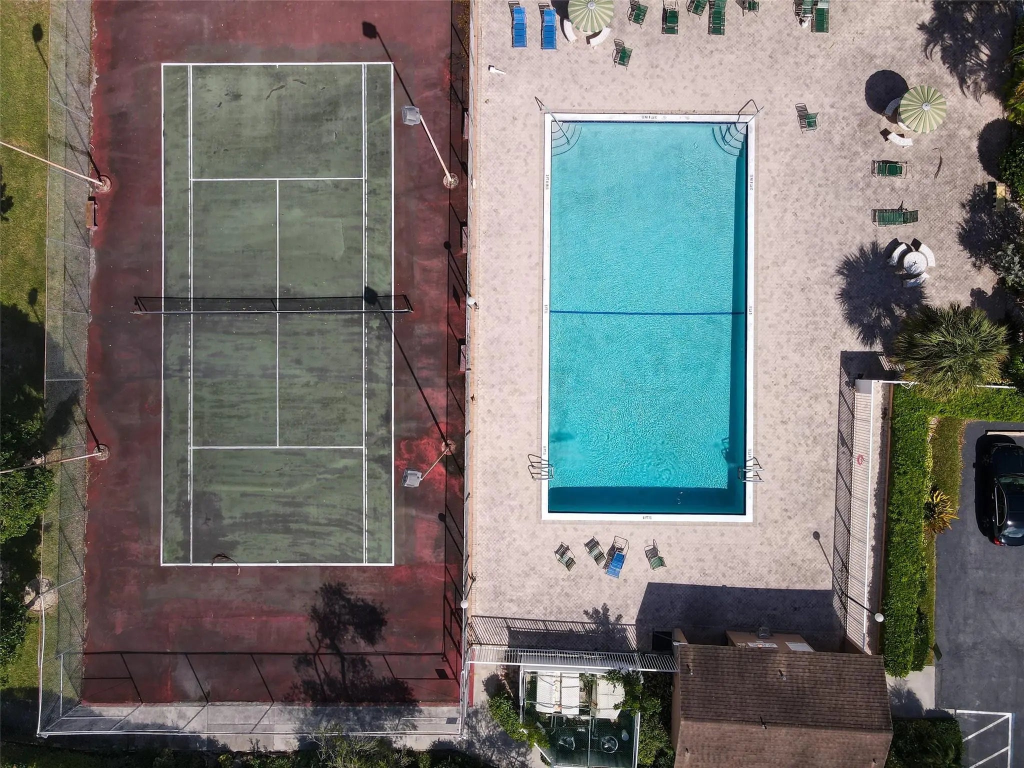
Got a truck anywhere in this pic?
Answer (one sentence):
No, no truck can be seen from above.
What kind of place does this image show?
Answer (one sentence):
What you see here is a sports ground.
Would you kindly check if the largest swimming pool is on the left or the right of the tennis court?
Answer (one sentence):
Looking at the picture, you'll find the largest swimming pool to the right of the tennis court.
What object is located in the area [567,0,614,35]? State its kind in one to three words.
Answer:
umbrella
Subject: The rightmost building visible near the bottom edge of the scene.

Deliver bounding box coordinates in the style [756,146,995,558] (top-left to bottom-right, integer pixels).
[668,627,892,768]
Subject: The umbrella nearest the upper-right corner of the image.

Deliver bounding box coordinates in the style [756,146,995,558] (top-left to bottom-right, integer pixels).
[898,86,947,134]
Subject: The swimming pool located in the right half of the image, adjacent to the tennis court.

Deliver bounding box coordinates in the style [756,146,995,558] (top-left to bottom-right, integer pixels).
[537,109,760,527]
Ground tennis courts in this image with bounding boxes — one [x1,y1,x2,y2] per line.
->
[82,0,475,706]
